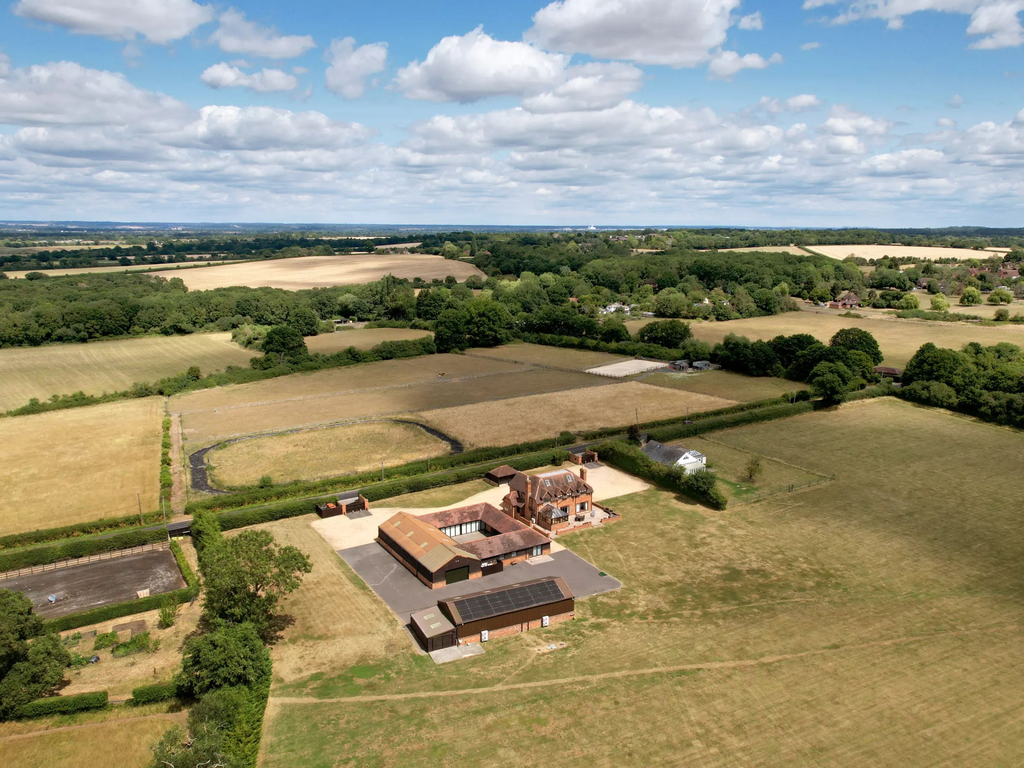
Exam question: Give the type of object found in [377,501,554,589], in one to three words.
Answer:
barn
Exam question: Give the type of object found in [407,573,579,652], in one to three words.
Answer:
barn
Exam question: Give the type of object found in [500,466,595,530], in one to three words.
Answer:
house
